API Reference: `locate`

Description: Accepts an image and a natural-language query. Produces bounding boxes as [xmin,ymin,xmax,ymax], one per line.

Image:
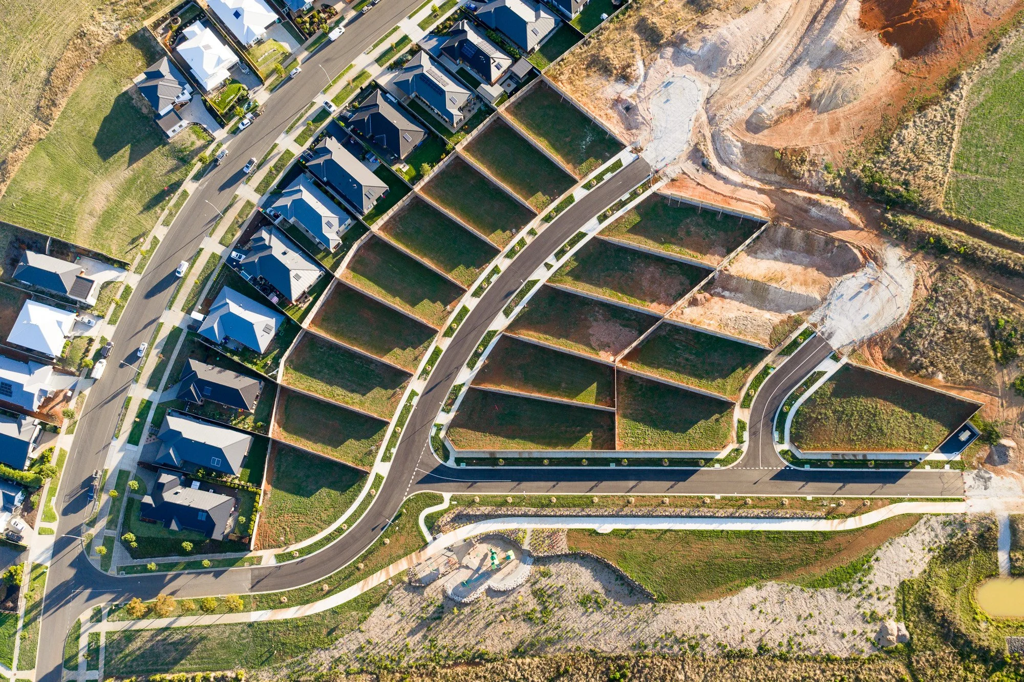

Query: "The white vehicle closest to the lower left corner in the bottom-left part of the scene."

[12,518,27,532]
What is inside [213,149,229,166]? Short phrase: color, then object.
gray vehicle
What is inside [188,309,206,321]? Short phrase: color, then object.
white vehicle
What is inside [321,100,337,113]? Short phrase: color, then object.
white vehicle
